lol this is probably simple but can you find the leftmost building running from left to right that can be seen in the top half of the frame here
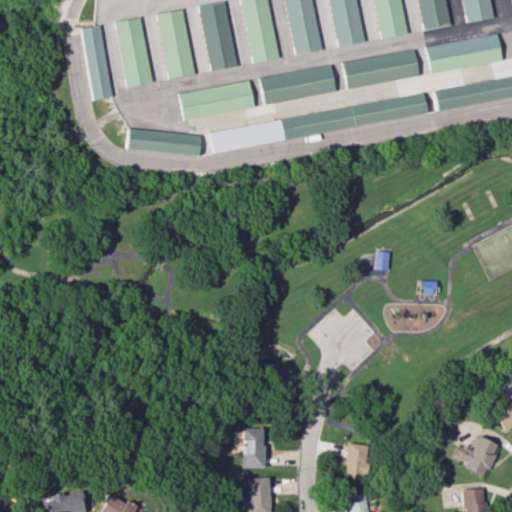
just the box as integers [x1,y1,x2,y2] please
[128,129,202,155]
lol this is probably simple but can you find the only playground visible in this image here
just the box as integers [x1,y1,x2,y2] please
[383,303,444,333]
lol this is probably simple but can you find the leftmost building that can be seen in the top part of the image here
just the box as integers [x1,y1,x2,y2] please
[82,25,114,100]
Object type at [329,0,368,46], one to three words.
building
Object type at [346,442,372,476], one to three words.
house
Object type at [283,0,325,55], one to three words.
building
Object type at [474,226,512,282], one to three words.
sports court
